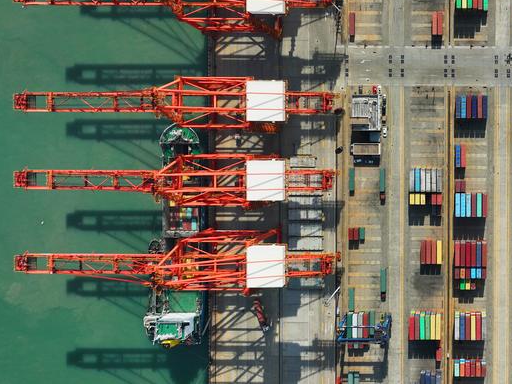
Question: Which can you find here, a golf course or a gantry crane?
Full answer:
It is a gantry crane that can be seen here.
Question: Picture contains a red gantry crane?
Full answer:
Yes, there is a red gantry crane in the image.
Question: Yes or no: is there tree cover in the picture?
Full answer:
No, there is no tree cover in the image.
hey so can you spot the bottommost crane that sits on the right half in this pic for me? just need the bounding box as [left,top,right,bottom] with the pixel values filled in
[338,310,392,344]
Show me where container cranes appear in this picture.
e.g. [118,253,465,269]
[12,69,336,140]
[12,215,336,294]
[12,0,338,47]
[12,143,336,209]
[338,310,392,344]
